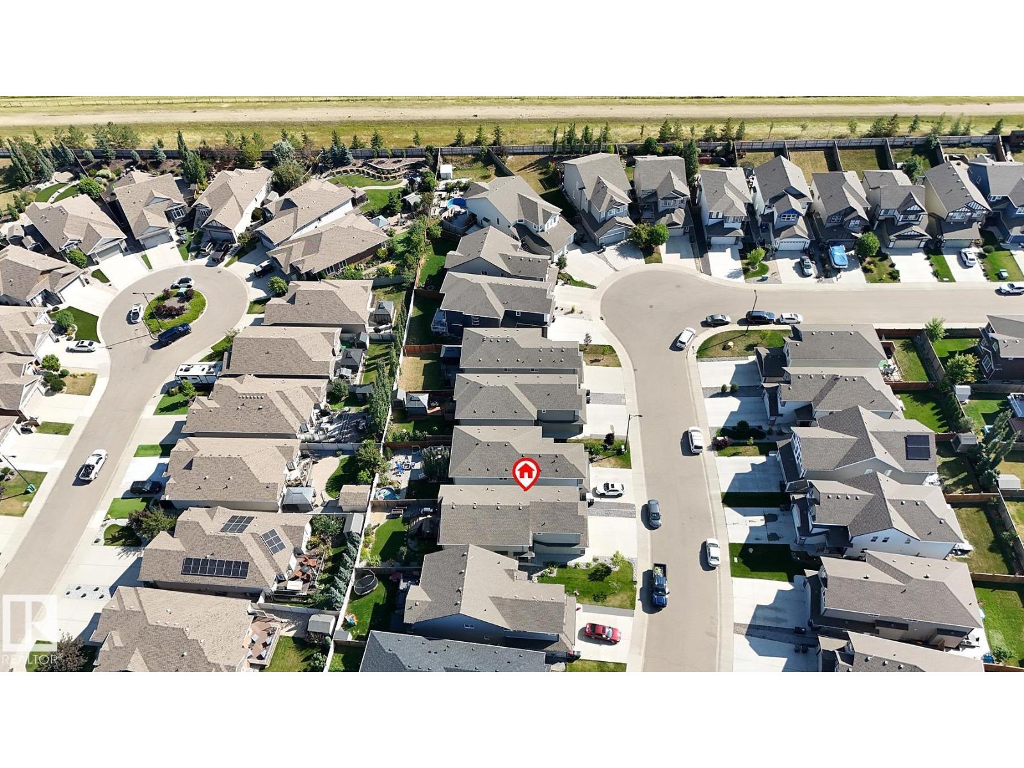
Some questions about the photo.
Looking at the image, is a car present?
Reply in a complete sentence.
Yes, a car is visible in the scene.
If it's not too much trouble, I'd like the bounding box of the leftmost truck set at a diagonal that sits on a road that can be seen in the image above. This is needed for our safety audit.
[75,449,111,483]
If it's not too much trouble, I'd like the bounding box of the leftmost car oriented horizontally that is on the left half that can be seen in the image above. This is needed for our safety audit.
[67,340,97,353]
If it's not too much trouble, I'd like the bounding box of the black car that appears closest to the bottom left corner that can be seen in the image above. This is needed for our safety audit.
[128,478,163,495]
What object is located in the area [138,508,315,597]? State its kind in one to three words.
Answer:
house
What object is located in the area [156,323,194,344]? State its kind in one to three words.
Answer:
truck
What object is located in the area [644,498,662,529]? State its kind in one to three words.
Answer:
car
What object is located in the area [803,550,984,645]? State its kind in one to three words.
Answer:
house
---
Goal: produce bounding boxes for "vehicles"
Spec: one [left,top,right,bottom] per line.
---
[703,313,732,327]
[583,621,622,645]
[156,323,194,344]
[75,449,111,483]
[128,478,163,495]
[593,481,627,499]
[208,241,231,262]
[997,282,1024,296]
[958,248,977,267]
[676,327,696,350]
[703,538,721,570]
[799,256,814,275]
[170,274,197,290]
[251,258,274,275]
[197,238,217,257]
[130,304,145,324]
[687,428,705,454]
[67,340,97,353]
[746,310,775,324]
[651,563,669,609]
[644,498,662,529]
[777,312,804,324]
